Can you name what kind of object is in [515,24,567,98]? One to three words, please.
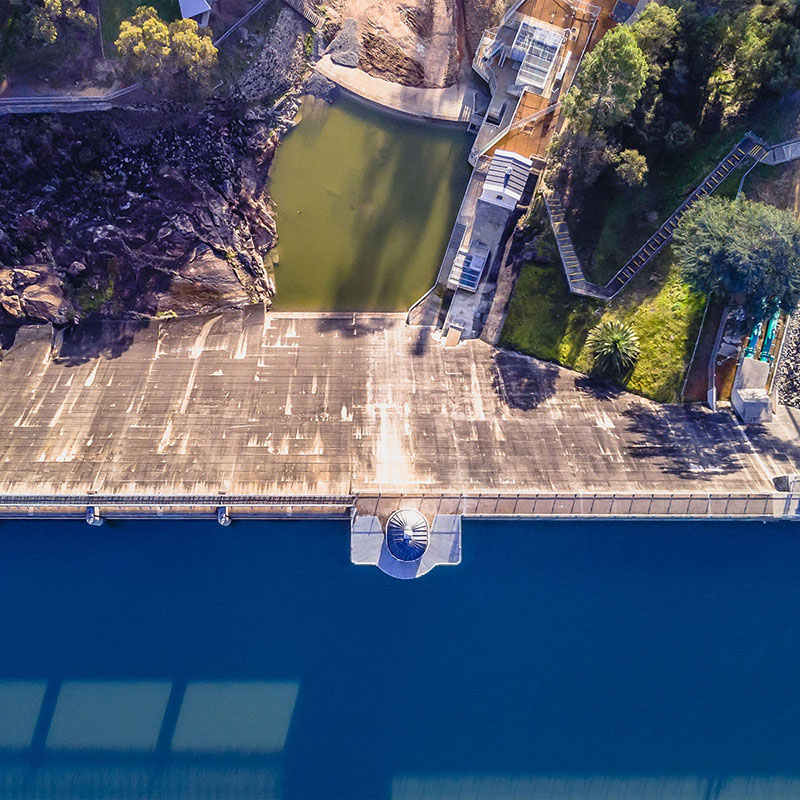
building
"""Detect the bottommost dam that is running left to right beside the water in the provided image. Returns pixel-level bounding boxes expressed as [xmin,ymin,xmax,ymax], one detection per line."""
[0,303,800,521]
